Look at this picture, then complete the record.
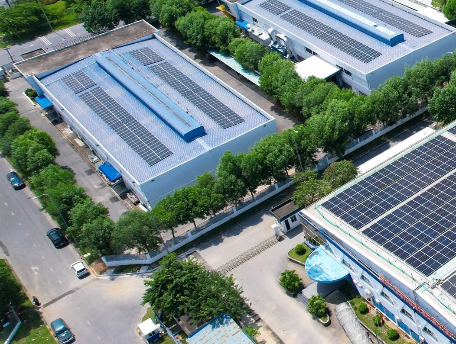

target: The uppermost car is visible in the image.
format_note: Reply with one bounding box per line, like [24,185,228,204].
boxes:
[2,169,25,188]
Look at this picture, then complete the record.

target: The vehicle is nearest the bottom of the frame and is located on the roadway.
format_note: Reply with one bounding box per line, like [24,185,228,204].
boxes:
[45,312,76,344]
